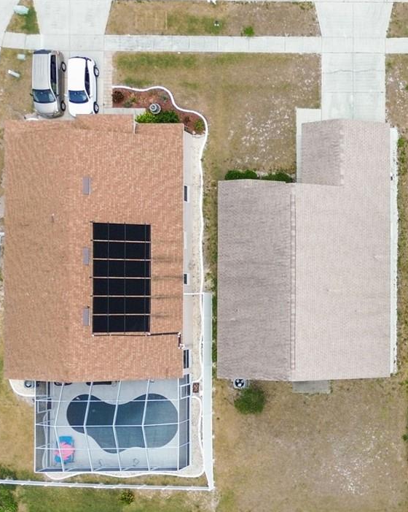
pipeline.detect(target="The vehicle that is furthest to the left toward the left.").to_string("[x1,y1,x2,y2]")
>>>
[30,49,68,120]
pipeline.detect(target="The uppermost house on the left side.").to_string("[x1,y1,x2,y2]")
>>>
[1,113,198,382]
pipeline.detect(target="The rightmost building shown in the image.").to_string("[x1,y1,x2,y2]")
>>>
[218,120,393,383]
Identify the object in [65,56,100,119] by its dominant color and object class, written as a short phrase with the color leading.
white car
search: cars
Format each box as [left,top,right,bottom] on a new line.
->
[65,56,100,119]
[30,49,68,120]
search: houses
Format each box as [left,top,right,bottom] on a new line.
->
[1,113,198,382]
[218,120,393,383]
